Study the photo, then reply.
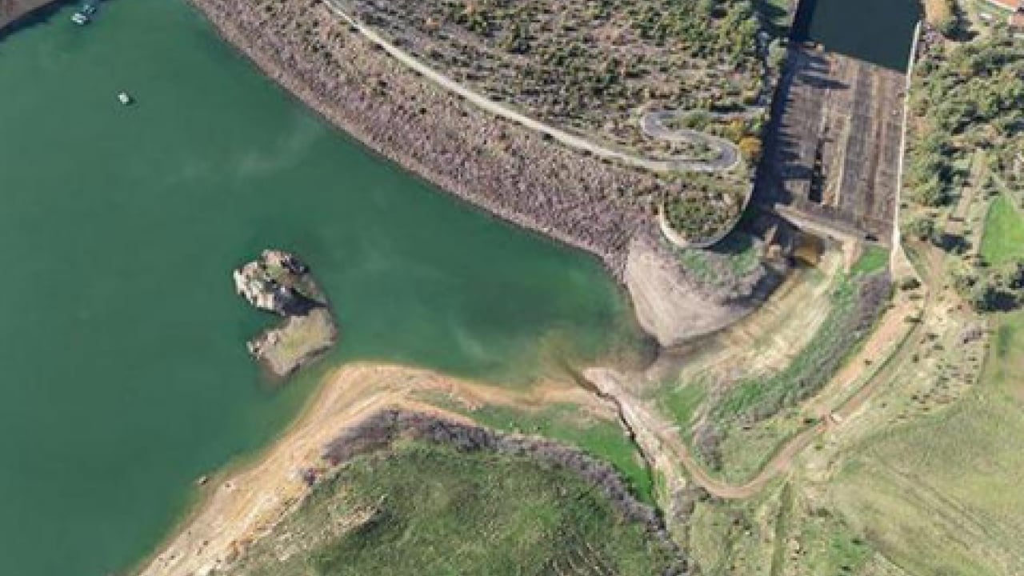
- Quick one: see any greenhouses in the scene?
No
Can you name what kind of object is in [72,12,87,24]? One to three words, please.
boat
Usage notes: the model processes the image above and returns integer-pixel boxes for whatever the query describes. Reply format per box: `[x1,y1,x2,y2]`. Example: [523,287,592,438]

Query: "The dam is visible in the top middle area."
[193,0,798,281]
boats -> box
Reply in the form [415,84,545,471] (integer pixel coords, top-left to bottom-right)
[72,12,87,24]
[82,4,92,14]
[118,92,128,103]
